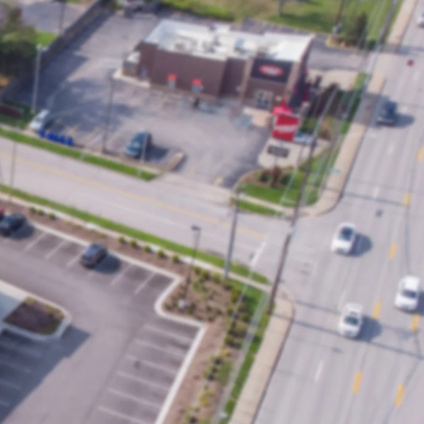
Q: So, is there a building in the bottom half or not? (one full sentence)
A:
No, no building appears in the bottom half.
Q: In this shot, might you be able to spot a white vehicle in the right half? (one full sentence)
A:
Yes, there is a white vehicle in the right half.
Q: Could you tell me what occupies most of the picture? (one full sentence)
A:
For the most part, this view shows paved ground.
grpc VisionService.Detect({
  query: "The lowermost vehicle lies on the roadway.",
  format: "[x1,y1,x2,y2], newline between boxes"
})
[338,307,366,341]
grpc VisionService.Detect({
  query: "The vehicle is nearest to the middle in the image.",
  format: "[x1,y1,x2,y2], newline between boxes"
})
[119,135,157,158]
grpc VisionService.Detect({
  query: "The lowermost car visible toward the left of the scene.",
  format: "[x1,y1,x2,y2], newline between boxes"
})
[77,244,113,272]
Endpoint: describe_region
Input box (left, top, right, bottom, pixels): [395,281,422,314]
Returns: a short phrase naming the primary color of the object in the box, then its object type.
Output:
white car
